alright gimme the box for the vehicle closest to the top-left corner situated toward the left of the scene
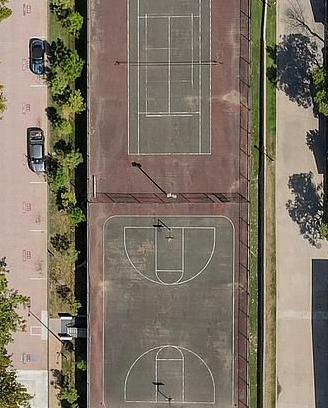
[30,38,46,74]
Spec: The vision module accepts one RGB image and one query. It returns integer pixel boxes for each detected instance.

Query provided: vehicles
[28,130,45,172]
[30,38,46,74]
